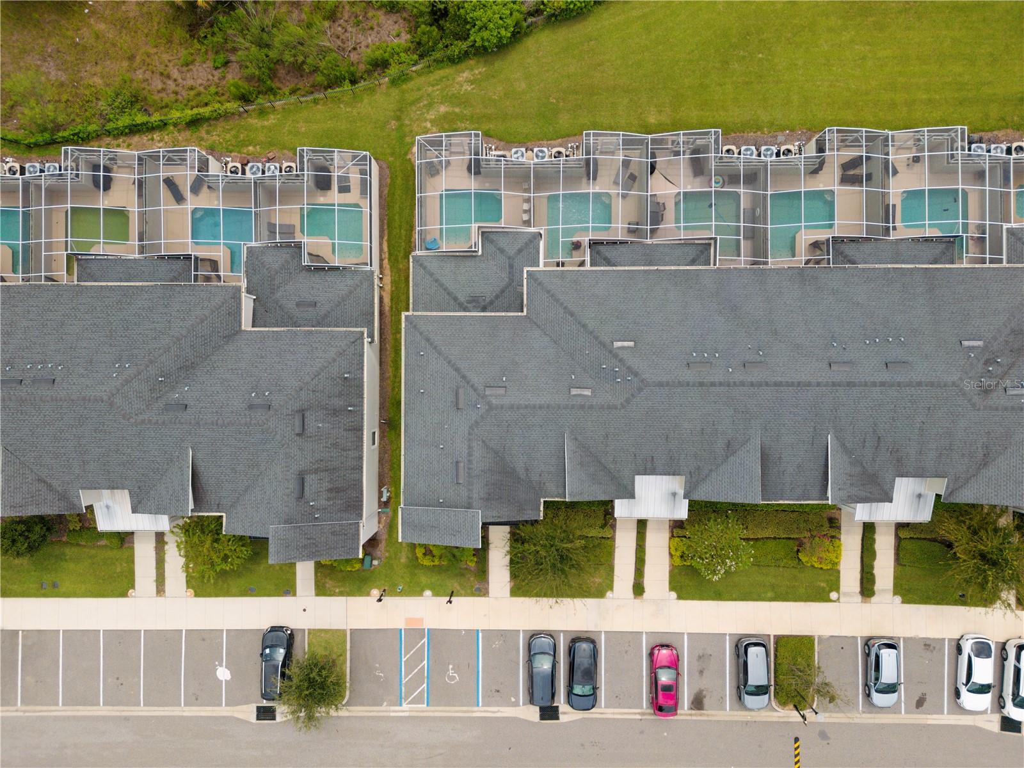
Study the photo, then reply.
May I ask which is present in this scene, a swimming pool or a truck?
swimming pool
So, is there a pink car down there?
Yes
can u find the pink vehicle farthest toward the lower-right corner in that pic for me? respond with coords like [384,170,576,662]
[649,642,682,719]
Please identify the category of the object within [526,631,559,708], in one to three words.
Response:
car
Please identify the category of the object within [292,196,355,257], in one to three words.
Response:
swimming pool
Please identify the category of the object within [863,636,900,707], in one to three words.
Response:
car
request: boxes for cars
[995,637,1024,721]
[567,635,600,710]
[257,625,295,703]
[863,636,900,707]
[953,632,994,711]
[649,642,682,719]
[734,636,769,710]
[526,631,559,708]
